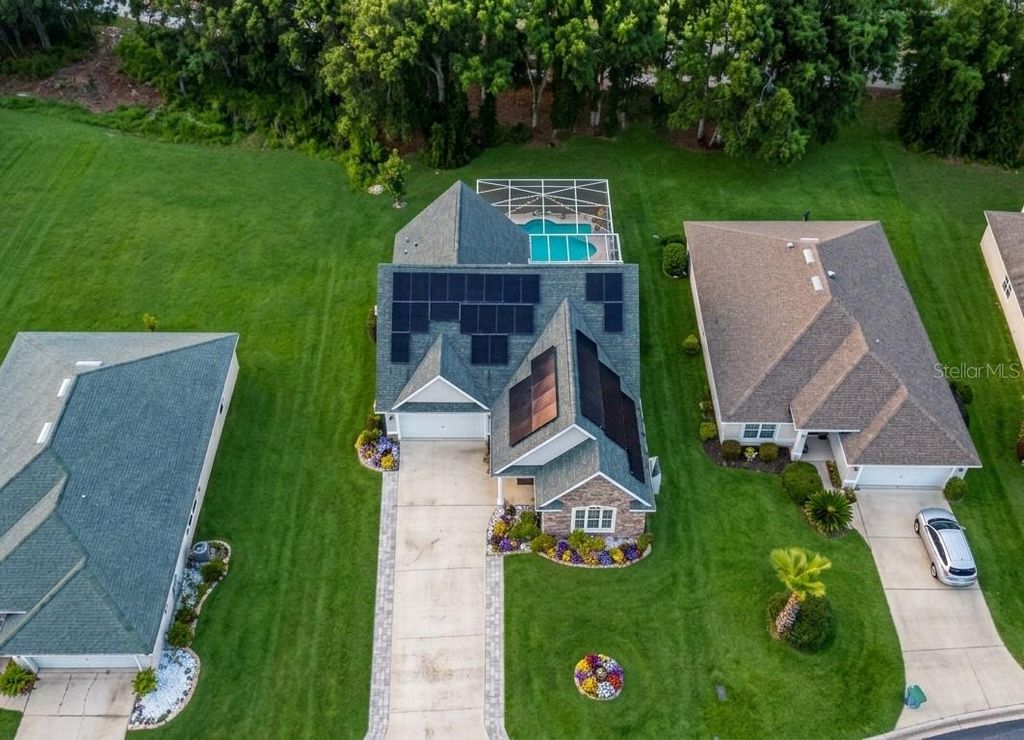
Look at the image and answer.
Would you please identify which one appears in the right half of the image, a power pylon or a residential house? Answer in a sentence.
The feature located in the right half of the image is a residential house.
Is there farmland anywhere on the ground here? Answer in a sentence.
No, the picture contains no farmland.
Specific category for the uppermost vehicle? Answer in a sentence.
It turns out the uppermost vehicle is an automobile.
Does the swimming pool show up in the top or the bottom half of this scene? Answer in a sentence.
Seen from above, the swimming pool lies in the top half of the view.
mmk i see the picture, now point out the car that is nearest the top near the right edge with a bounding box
[913,507,978,588]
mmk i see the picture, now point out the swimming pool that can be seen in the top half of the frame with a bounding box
[515,215,601,262]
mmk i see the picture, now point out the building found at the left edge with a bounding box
[0,331,240,670]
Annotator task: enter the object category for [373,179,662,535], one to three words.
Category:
house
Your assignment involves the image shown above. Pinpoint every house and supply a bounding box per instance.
[683,220,983,488]
[0,331,240,670]
[980,211,1024,362]
[373,179,662,535]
